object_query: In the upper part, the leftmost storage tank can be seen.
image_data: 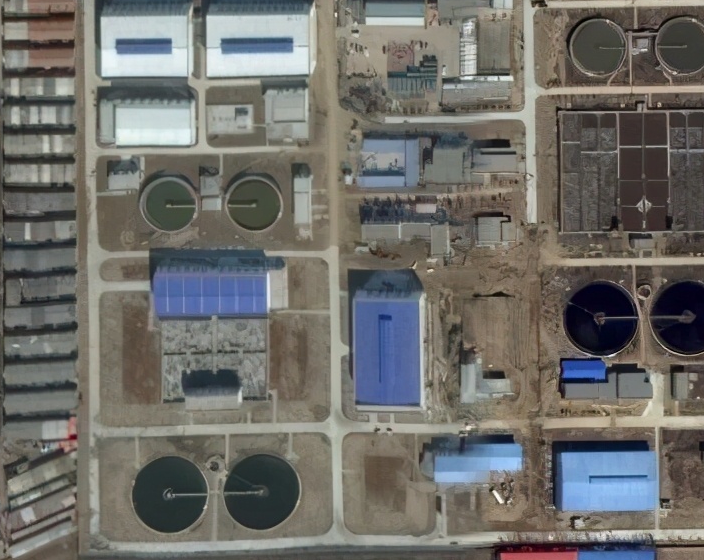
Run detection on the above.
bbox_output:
[139,175,198,232]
